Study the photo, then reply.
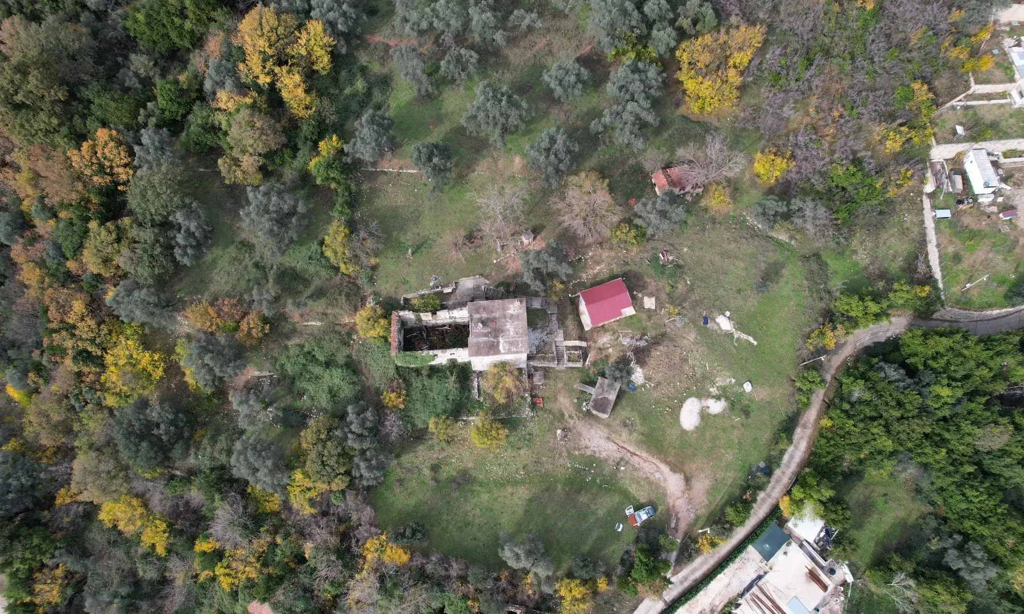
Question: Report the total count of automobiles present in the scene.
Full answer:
I count just 1 automobile.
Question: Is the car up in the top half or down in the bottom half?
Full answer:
You can find the car in the bottom half.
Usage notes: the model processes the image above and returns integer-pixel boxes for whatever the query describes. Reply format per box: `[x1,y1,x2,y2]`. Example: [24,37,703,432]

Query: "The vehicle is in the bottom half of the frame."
[626,503,657,526]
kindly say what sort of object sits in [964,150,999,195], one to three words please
shed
